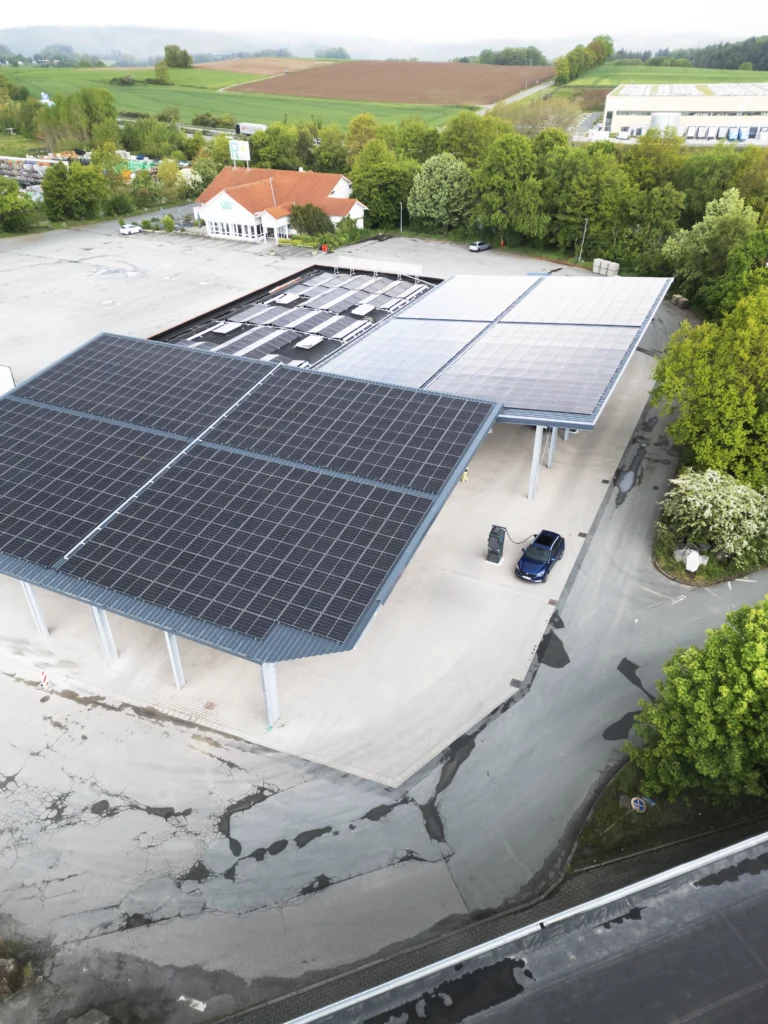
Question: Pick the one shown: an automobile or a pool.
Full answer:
I can see an automobile in this picture.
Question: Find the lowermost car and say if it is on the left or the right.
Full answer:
The lowermost car sits on the right side.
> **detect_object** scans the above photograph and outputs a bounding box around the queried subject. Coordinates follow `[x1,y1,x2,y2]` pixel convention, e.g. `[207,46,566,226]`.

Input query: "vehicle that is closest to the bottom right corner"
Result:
[515,524,564,582]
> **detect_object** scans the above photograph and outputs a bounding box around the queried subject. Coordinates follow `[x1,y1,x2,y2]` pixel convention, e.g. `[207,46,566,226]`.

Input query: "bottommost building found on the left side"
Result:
[155,265,441,371]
